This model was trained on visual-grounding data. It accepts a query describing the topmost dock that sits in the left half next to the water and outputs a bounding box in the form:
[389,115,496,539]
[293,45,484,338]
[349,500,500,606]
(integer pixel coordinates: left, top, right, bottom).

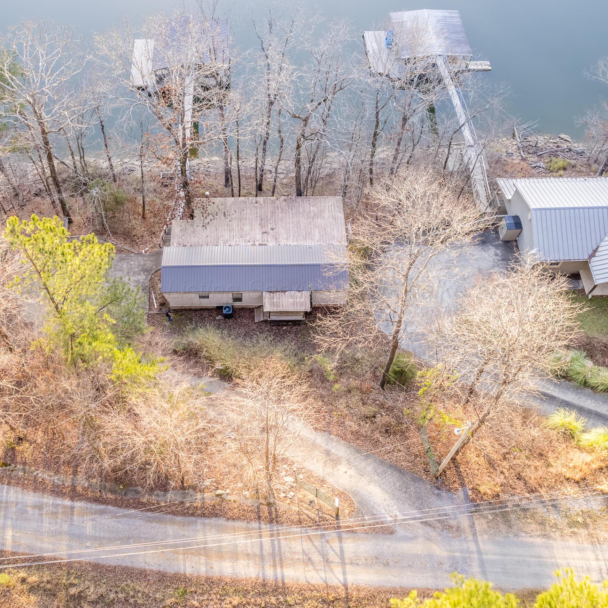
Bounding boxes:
[133,12,232,104]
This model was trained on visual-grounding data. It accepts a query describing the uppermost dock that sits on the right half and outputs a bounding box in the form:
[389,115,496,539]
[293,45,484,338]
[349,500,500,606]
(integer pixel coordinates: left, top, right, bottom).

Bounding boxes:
[365,9,470,92]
